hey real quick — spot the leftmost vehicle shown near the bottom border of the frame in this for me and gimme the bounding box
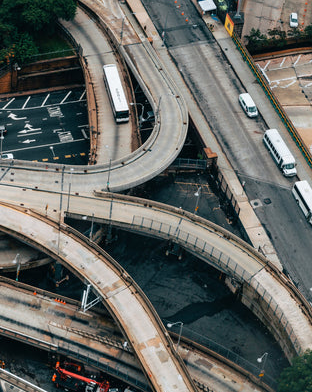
[48,360,108,392]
